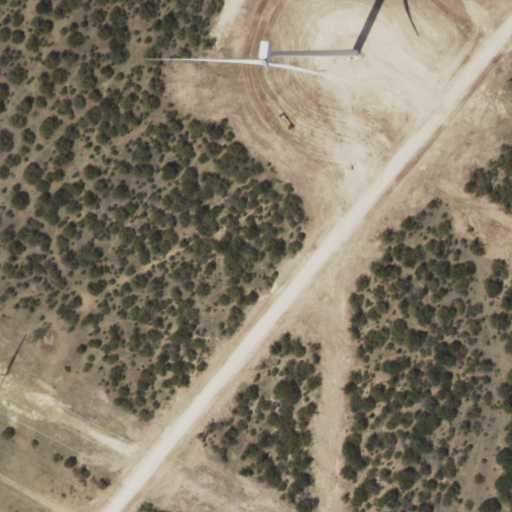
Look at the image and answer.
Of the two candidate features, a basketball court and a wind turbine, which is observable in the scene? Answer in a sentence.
There is a wind turbine in the scene.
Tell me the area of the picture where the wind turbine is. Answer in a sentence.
The wind turbine appears toward the top of the photo.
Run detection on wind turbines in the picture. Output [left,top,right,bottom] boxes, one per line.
[152,42,364,88]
